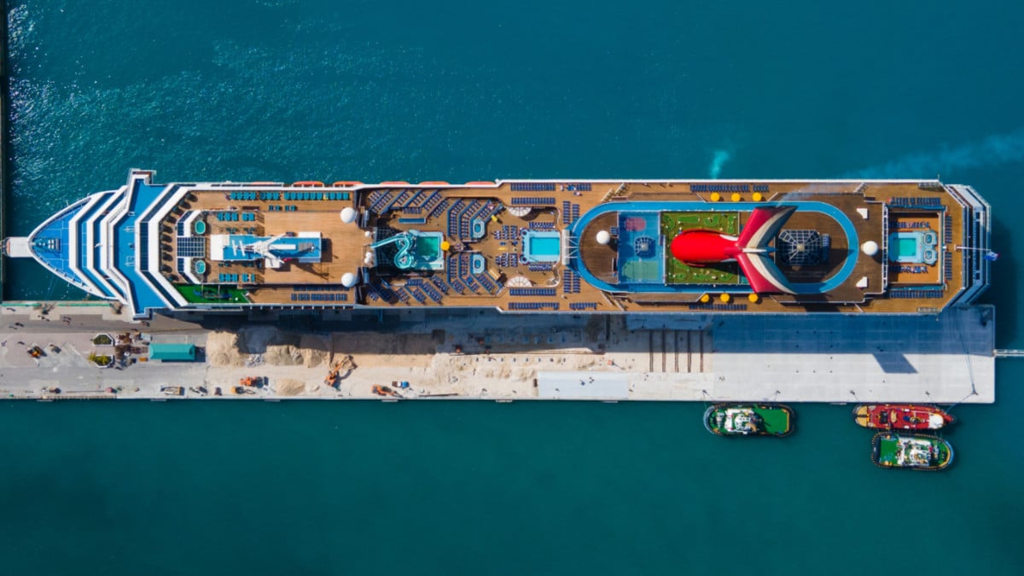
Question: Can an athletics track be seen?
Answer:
Yes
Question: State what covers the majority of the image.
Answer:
water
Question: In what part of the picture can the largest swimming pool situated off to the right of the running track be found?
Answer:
right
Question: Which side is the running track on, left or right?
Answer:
right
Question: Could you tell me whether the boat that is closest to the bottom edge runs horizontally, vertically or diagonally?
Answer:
horizontally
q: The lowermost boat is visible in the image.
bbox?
[870,431,956,470]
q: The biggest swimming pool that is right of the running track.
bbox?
[890,231,922,263]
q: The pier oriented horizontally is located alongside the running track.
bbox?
[0,300,996,406]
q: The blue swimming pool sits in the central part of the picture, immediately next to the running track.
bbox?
[519,227,560,266]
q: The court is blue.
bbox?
[616,212,669,284]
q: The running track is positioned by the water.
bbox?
[573,202,858,293]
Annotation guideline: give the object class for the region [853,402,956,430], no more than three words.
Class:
boat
